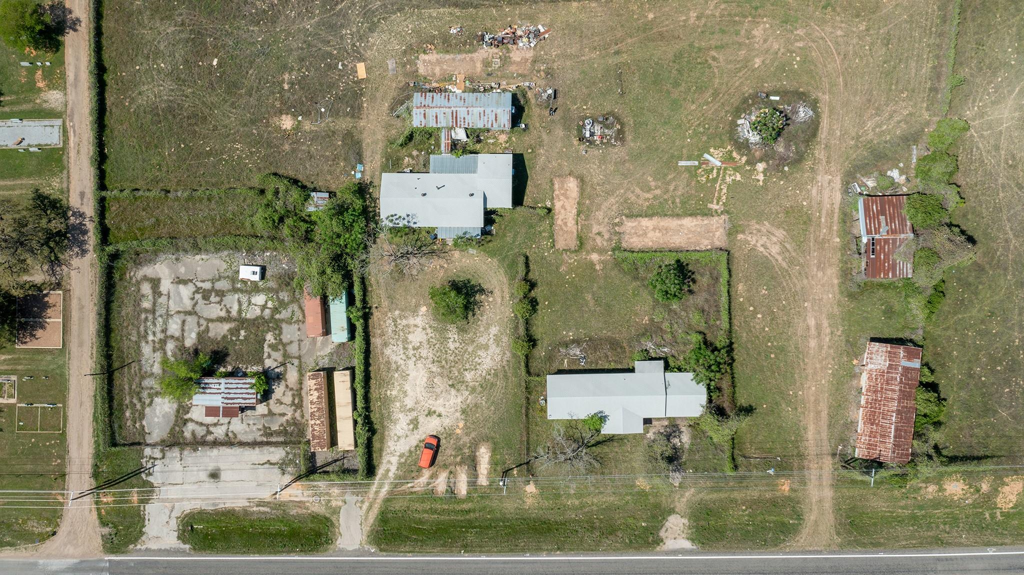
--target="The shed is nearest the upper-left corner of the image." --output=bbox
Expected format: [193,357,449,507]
[311,192,331,210]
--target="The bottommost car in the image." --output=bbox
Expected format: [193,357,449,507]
[420,434,439,469]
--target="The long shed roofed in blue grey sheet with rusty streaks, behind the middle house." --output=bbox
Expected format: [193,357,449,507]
[413,92,516,131]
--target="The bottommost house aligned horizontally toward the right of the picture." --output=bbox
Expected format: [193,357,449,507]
[546,360,707,434]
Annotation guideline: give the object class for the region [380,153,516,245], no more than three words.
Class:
house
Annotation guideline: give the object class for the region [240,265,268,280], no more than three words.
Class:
camper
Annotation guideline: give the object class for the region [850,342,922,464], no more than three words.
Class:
barn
